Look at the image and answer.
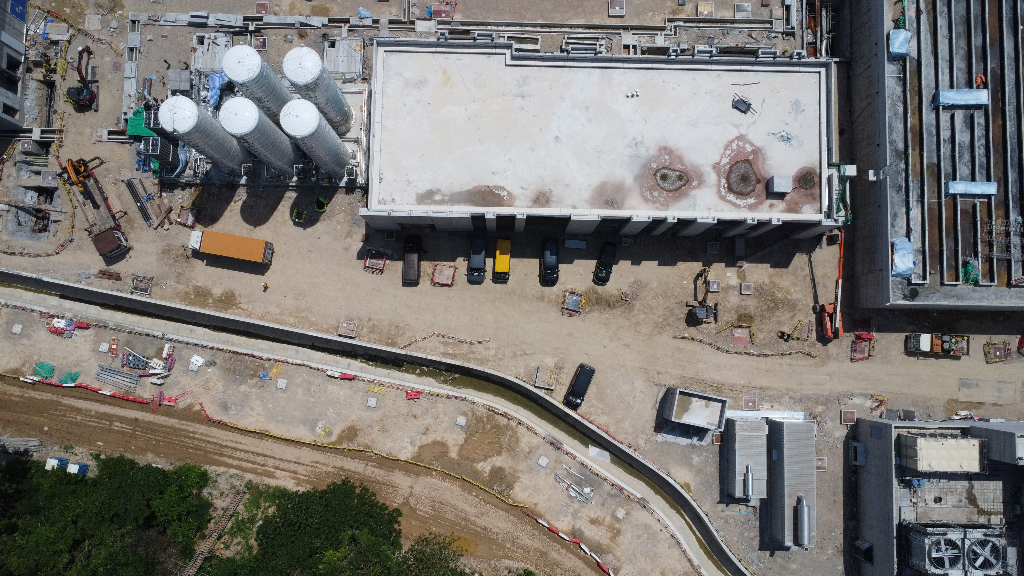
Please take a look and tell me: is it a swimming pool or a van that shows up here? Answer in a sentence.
Of the two, only a van appears.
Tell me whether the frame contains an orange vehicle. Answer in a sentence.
Yes, you can see an orange vehicle in this photo.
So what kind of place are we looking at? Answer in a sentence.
This image shows an industrial area.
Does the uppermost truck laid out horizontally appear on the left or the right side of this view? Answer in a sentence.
It is on the left.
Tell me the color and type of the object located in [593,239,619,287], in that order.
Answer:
black vehicle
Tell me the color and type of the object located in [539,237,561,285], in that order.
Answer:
black vehicle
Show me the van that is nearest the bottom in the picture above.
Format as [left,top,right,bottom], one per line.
[565,361,598,411]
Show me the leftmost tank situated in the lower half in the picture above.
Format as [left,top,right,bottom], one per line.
[665,387,729,431]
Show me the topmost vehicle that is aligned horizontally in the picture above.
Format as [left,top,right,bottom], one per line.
[182,226,283,266]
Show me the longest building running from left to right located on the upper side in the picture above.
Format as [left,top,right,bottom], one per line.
[359,26,868,238]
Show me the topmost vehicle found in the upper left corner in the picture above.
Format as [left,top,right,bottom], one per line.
[52,40,95,108]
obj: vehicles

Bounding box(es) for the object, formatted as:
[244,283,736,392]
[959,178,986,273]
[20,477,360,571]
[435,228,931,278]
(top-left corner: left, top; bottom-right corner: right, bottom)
[491,237,512,281]
[565,361,598,411]
[593,239,619,287]
[399,237,426,284]
[52,40,95,108]
[539,237,561,285]
[905,331,973,355]
[691,267,723,325]
[182,226,283,266]
[51,161,127,258]
[465,237,487,284]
